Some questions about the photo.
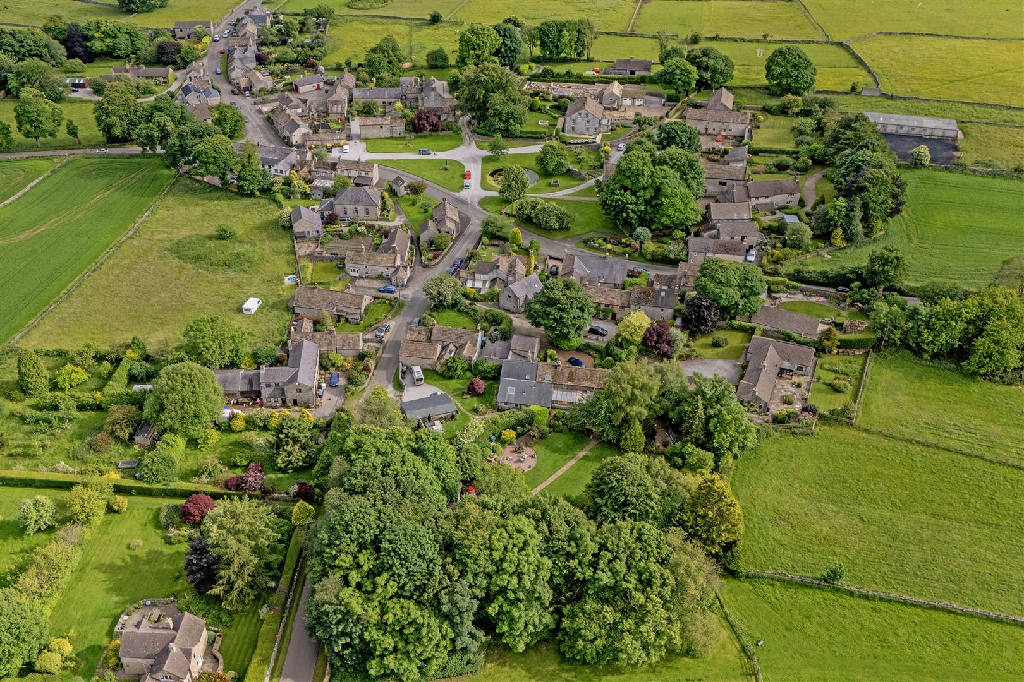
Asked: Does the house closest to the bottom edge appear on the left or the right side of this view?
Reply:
left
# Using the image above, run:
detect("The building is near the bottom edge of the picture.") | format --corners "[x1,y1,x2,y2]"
[119,611,218,682]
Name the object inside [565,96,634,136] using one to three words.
house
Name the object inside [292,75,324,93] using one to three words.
barn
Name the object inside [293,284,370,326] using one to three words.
house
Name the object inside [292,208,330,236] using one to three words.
building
